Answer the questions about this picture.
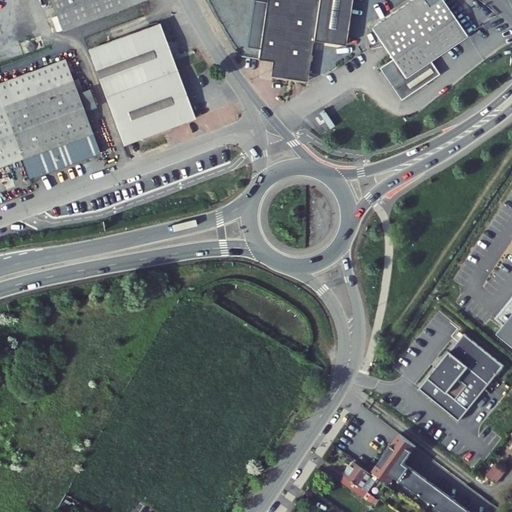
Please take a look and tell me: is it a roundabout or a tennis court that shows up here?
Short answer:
roundabout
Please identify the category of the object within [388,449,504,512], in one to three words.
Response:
building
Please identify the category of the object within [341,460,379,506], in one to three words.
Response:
house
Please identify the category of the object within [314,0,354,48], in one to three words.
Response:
building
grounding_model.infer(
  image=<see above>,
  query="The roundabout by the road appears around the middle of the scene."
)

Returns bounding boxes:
[240,158,359,276]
